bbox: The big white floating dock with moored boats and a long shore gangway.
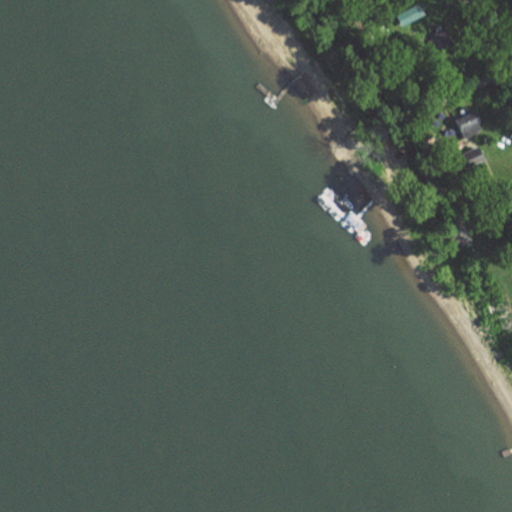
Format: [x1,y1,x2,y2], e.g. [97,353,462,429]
[319,186,374,233]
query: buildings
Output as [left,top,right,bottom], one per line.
[400,4,427,26]
[466,146,487,166]
[459,112,484,138]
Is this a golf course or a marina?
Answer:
marina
